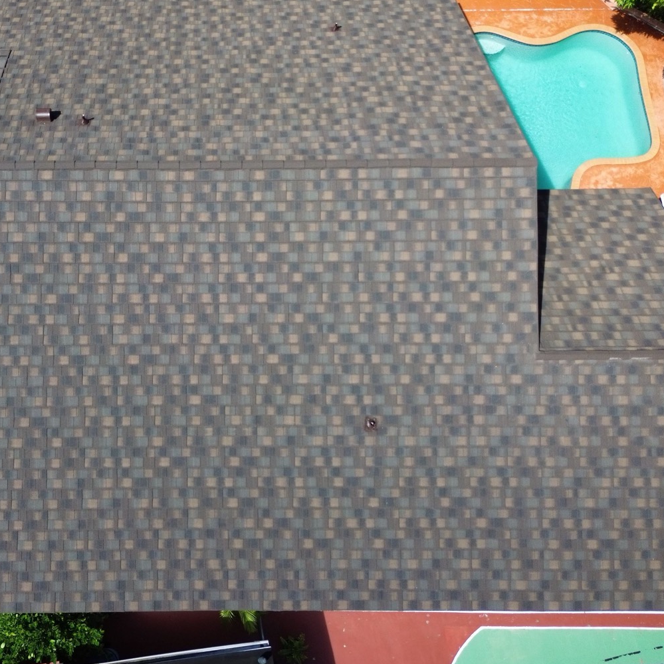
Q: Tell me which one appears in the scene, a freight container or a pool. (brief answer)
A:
pool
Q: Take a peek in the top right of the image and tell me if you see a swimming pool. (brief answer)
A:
Yes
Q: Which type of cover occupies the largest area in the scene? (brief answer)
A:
buildings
